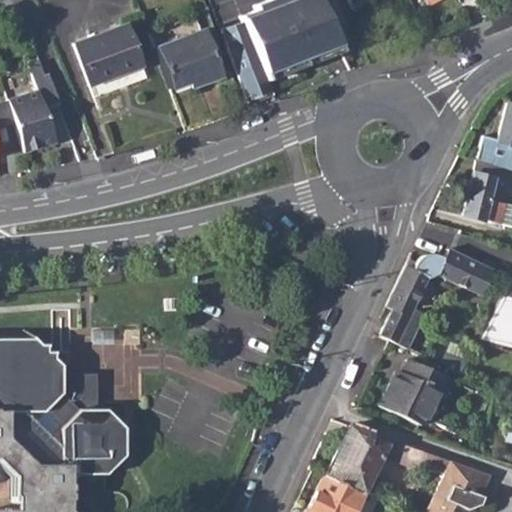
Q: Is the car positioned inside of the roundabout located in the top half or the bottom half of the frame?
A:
top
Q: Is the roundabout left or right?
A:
right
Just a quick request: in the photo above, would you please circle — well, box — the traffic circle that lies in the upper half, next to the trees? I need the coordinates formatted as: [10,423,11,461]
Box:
[317,80,444,206]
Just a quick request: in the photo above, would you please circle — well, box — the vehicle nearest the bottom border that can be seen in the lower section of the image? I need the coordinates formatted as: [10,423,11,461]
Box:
[244,478,258,500]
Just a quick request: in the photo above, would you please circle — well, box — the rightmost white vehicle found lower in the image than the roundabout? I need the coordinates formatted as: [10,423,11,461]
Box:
[416,240,440,254]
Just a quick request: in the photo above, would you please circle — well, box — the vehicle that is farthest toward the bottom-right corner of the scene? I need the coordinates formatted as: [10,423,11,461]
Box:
[340,359,360,388]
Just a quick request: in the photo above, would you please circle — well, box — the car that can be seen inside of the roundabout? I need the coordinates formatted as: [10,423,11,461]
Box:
[408,140,430,161]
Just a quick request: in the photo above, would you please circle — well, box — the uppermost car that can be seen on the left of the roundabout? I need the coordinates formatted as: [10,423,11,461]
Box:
[242,116,264,130]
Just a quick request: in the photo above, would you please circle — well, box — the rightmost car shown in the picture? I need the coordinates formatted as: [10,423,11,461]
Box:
[458,52,482,67]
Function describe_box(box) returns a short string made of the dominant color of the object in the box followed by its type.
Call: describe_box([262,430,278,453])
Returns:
blue car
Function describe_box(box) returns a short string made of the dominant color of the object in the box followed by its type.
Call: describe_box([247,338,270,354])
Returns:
white car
